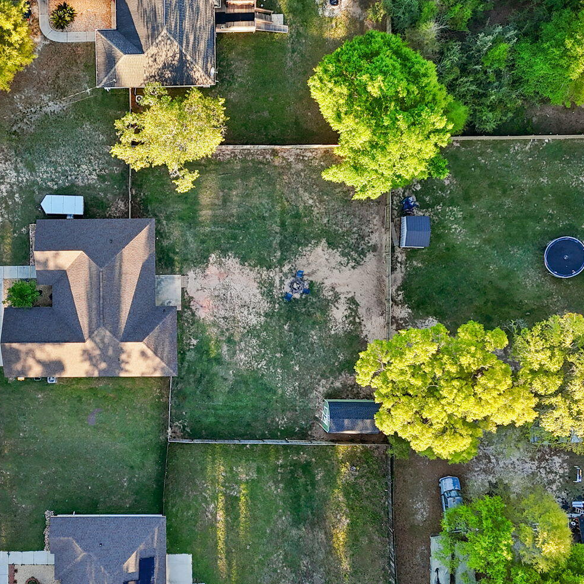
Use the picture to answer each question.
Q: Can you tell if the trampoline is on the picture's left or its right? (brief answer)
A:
right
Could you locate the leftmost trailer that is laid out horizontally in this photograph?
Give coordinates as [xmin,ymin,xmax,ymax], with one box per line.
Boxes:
[36,196,84,218]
